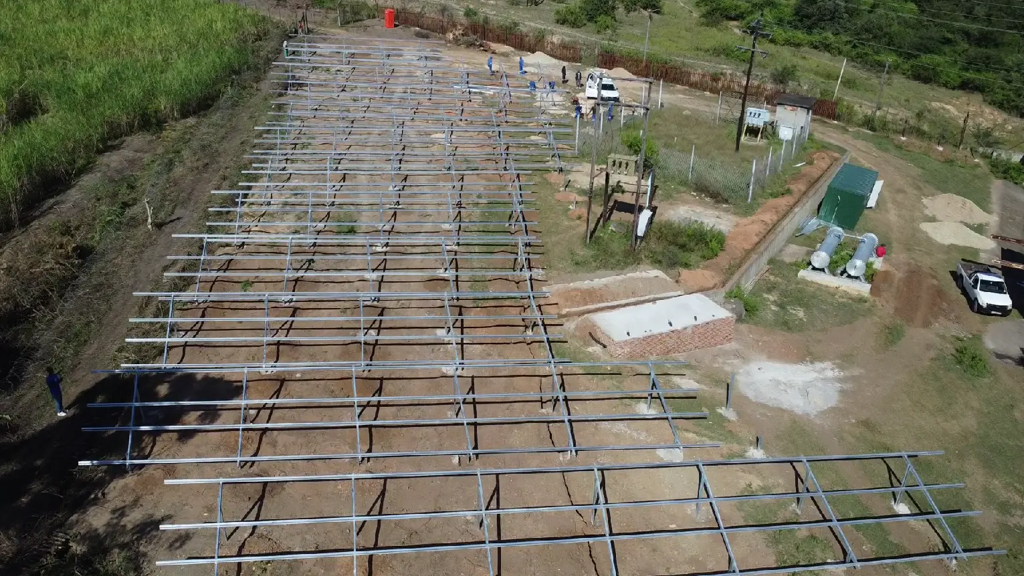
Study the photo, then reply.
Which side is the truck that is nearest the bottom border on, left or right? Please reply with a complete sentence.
You can find the truck that is nearest the bottom border on the right side of the picture.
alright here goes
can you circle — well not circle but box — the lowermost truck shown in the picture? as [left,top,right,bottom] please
[958,267,1015,321]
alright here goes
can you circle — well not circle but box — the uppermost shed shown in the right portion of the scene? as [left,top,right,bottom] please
[777,101,818,143]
